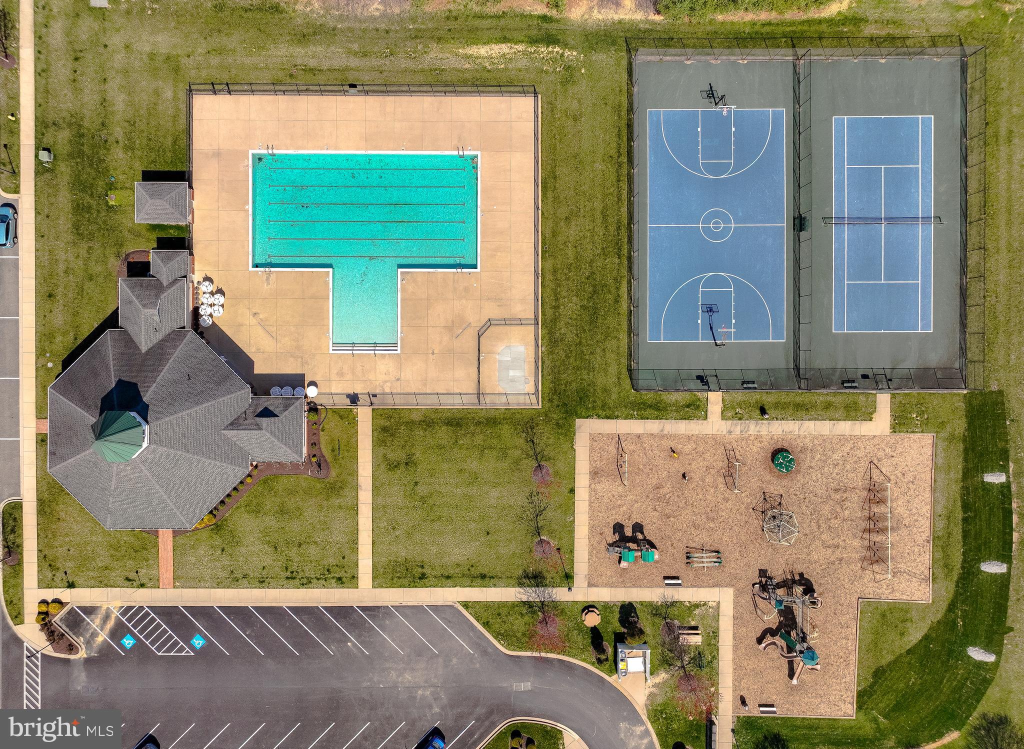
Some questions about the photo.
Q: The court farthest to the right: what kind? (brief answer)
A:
tennis court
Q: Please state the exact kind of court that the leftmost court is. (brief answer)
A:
basketball court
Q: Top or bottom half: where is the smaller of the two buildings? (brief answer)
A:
top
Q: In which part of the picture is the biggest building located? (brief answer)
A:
left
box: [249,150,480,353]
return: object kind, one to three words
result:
swimming pool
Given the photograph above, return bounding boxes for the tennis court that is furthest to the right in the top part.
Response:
[800,60,966,390]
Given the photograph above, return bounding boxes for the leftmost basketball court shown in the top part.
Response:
[635,60,799,391]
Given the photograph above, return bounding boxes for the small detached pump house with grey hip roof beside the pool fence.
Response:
[134,181,194,224]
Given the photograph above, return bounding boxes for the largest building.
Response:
[48,249,308,531]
